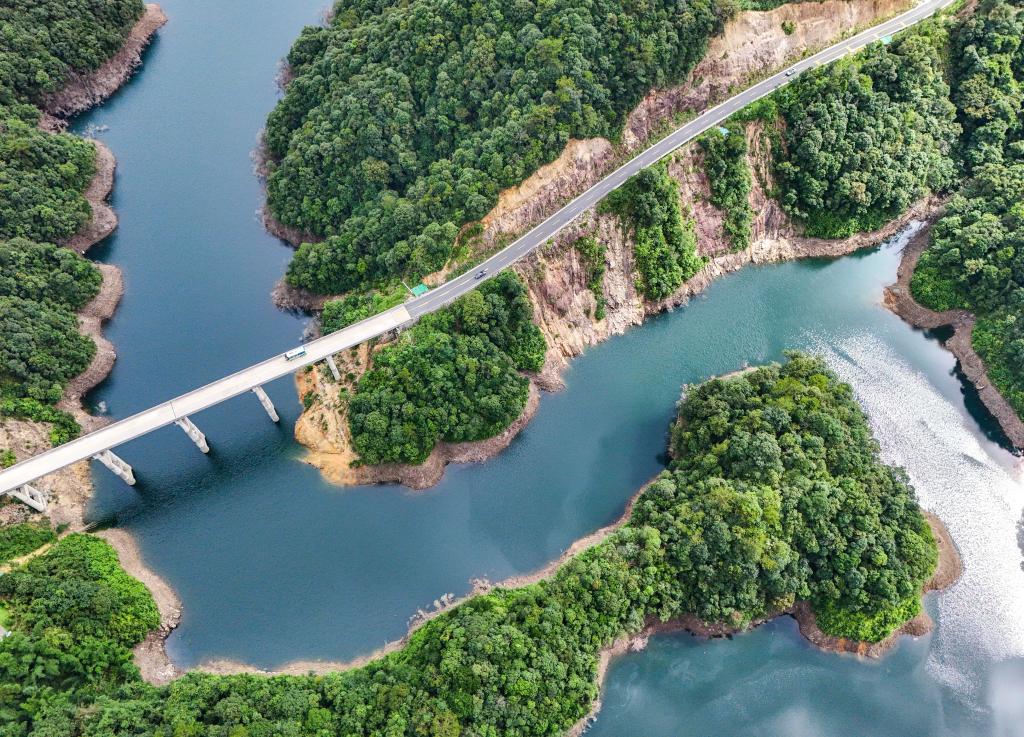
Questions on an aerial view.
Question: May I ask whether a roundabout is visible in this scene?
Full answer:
No, the scene contains no roundabout.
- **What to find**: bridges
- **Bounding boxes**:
[0,302,413,516]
